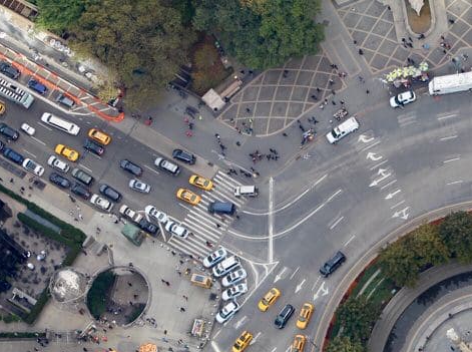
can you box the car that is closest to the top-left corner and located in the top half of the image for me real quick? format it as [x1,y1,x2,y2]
[0,59,22,80]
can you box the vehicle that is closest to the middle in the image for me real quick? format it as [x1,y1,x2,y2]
[233,182,259,195]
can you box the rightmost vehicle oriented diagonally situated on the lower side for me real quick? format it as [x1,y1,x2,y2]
[318,249,346,273]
